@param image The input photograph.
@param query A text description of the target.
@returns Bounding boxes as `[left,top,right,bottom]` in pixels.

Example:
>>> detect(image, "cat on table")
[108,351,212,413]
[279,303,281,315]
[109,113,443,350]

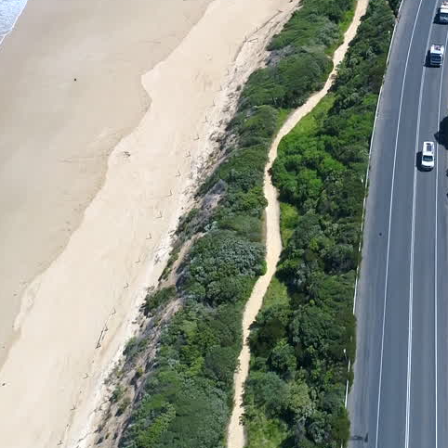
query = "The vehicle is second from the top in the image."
[427,44,442,67]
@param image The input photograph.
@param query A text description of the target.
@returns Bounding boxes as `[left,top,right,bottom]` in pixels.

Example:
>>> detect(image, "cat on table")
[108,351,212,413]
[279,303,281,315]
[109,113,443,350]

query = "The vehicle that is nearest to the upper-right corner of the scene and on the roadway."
[435,3,448,23]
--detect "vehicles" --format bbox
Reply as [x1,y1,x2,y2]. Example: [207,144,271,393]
[435,3,448,23]
[420,142,435,167]
[427,44,442,67]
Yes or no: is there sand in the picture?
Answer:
Yes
